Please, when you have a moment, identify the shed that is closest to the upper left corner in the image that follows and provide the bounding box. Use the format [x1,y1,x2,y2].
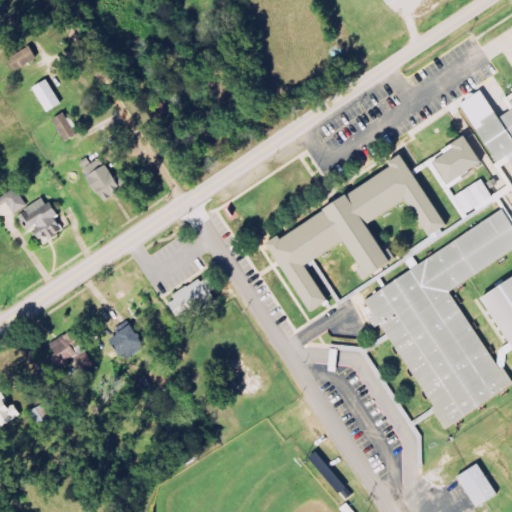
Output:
[8,46,34,69]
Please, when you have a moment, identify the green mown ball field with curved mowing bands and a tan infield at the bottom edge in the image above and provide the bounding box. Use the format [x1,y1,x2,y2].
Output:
[154,418,341,512]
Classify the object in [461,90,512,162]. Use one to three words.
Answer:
building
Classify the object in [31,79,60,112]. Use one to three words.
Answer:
barn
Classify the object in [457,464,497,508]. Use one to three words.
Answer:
shed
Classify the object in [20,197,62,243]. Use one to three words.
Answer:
house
